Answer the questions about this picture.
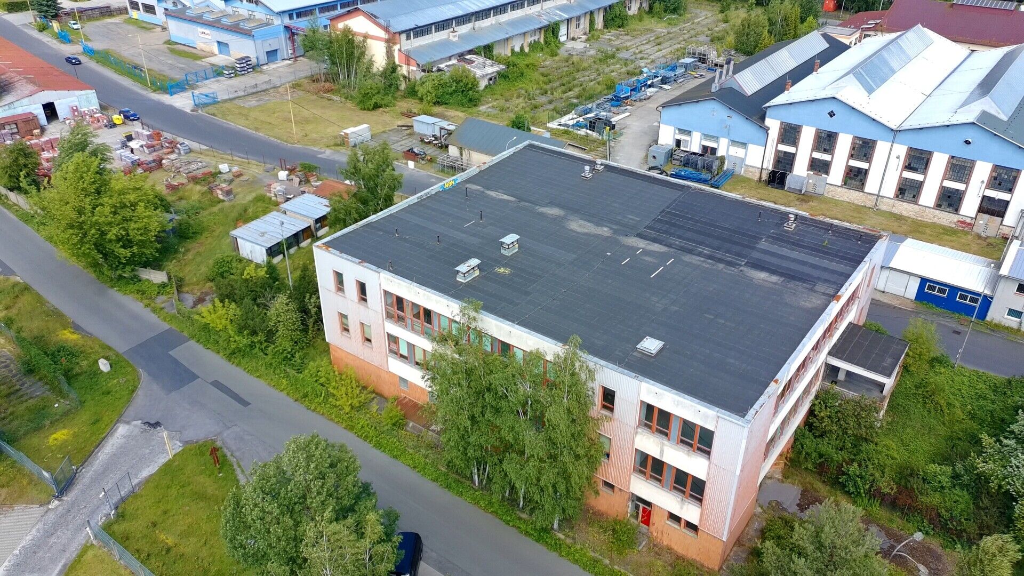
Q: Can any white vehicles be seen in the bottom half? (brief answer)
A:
No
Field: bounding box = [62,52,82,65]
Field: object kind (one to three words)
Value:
vehicle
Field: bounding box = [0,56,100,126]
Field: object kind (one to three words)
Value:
shed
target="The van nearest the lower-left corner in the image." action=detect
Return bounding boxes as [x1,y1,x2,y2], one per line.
[385,533,425,576]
